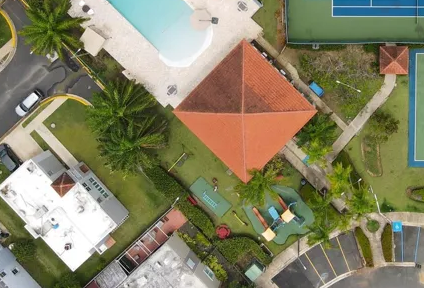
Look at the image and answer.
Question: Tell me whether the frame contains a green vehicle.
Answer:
No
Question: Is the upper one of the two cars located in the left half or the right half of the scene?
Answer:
left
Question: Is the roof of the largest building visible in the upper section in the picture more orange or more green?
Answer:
orange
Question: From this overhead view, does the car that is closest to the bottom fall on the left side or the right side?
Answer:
left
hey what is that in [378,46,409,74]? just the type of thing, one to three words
gazebo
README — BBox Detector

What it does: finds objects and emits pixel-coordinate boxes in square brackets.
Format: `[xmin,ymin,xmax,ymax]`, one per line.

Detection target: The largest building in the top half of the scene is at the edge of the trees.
[173,39,316,181]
